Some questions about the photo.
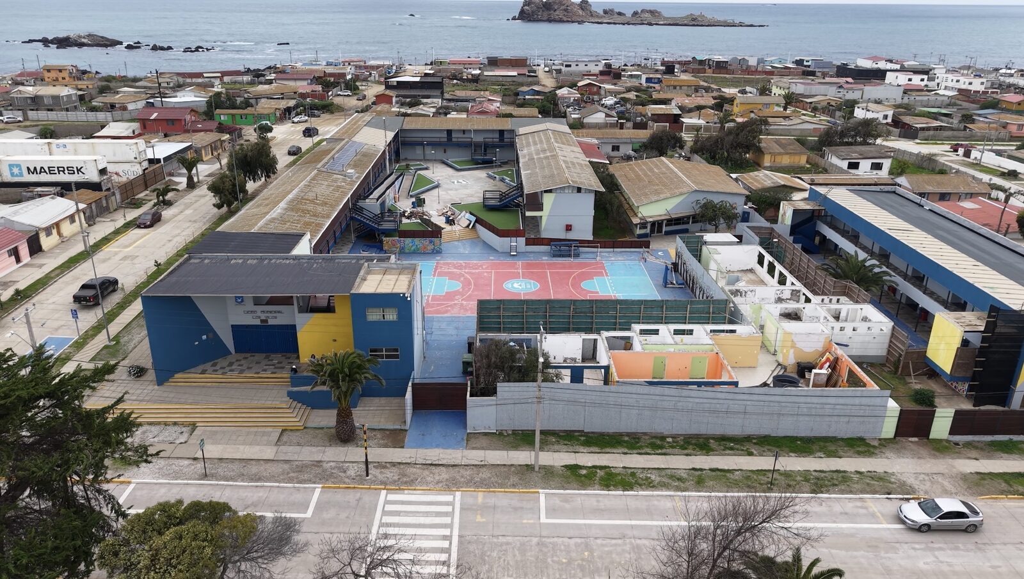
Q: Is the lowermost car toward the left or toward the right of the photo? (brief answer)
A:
right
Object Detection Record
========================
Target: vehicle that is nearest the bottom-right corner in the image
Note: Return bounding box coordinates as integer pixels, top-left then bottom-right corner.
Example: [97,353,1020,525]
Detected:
[898,493,989,530]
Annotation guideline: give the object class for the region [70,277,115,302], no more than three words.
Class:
truck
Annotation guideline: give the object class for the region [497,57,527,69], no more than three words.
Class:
house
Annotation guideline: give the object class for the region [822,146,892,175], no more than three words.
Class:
house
